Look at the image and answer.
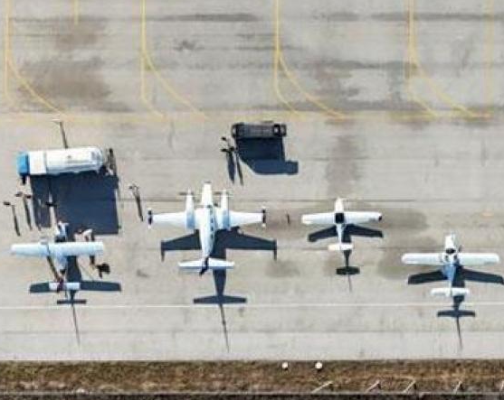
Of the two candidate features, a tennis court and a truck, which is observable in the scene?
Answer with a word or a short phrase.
truck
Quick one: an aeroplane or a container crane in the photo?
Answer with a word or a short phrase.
aeroplane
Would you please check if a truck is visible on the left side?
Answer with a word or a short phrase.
Yes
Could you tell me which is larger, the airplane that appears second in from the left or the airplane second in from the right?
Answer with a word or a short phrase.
the airplane that appears second in from the left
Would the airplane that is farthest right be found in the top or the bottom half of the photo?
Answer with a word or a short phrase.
bottom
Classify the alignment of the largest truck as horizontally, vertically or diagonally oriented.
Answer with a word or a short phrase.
horizontally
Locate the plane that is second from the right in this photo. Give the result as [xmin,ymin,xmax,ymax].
[301,195,381,254]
